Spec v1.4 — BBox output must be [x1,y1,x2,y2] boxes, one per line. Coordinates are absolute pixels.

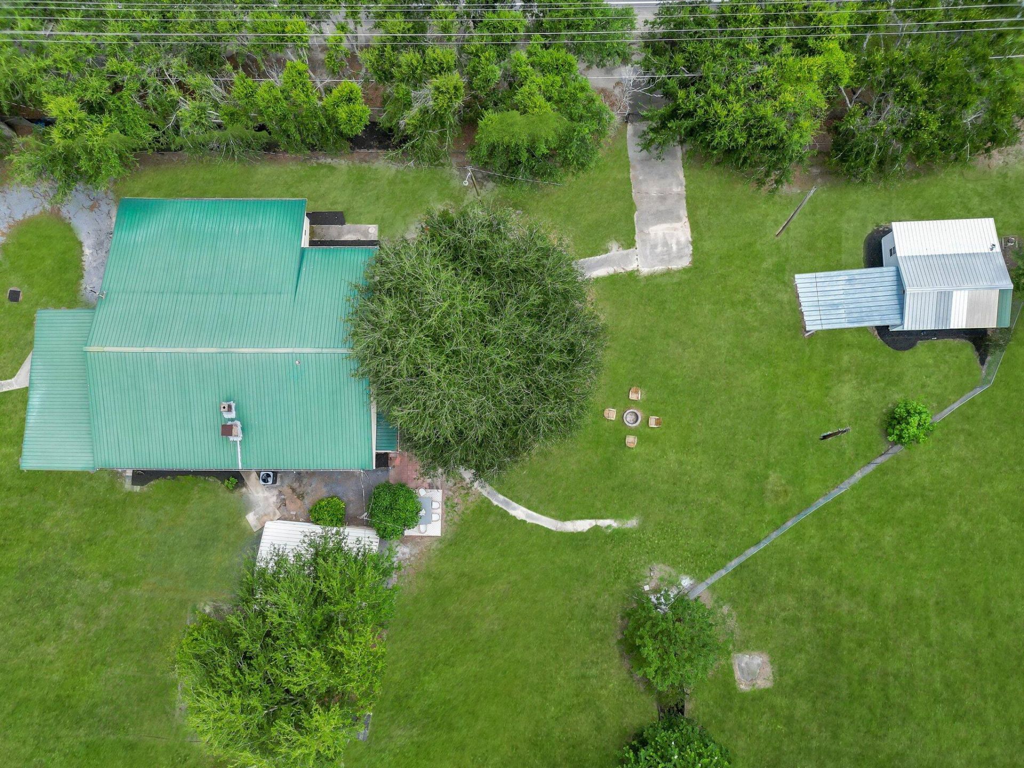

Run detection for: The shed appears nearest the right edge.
[882,218,1014,330]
